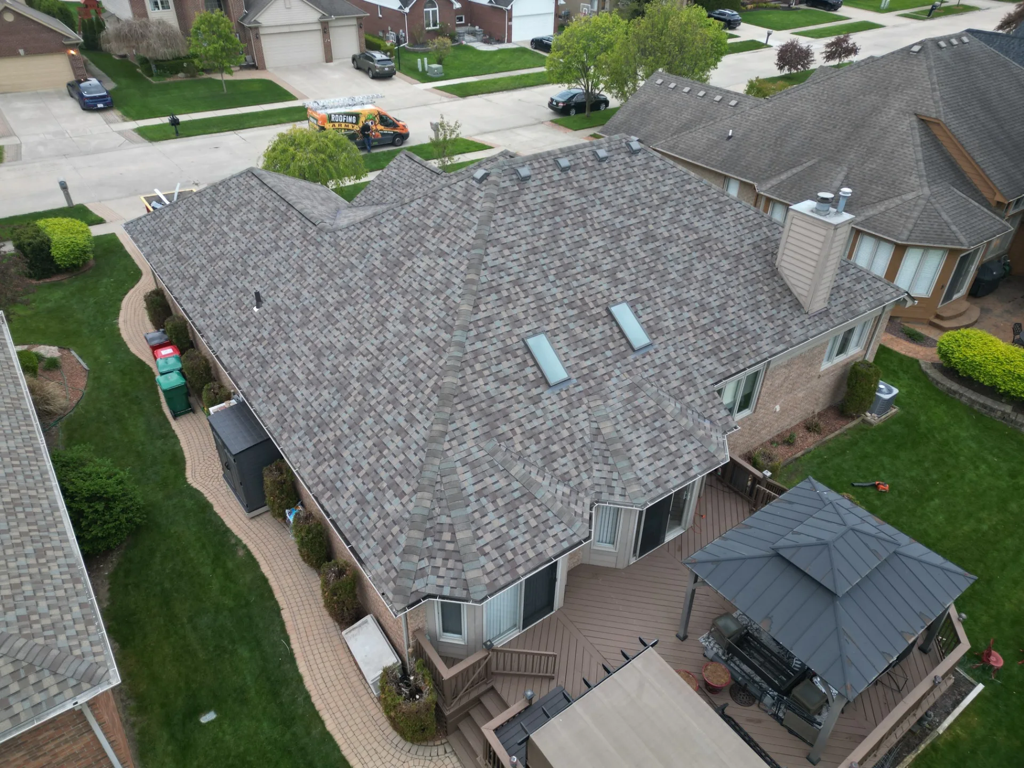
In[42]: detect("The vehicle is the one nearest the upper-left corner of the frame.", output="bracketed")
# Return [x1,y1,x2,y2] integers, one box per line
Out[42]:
[67,79,111,108]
